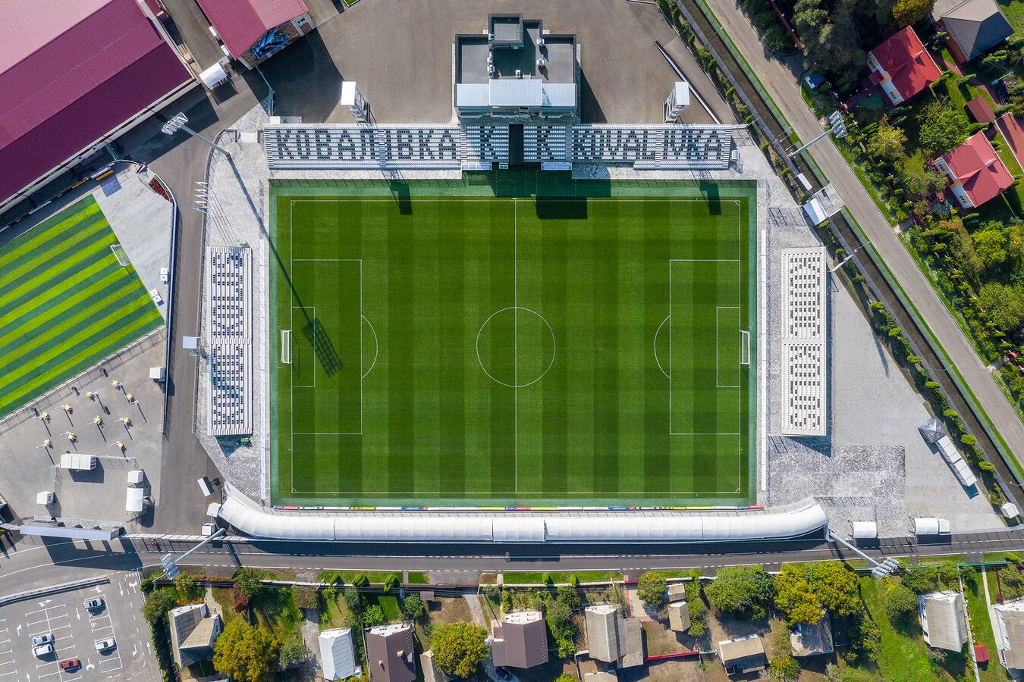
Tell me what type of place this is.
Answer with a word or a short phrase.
sports ground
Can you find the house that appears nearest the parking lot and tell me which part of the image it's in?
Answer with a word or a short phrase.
bottom left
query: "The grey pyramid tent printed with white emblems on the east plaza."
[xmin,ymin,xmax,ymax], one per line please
[915,417,946,443]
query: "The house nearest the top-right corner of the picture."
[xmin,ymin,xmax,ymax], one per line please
[938,0,1015,66]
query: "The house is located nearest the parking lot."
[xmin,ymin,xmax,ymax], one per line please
[168,604,207,668]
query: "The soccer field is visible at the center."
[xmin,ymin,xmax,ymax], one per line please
[269,169,757,507]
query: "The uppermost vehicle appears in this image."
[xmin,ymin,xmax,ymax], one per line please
[82,599,103,611]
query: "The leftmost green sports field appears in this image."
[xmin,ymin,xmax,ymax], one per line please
[0,195,164,416]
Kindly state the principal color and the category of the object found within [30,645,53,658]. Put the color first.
white vehicle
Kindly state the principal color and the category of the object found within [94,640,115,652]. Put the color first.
white vehicle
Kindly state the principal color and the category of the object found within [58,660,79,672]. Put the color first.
red vehicle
